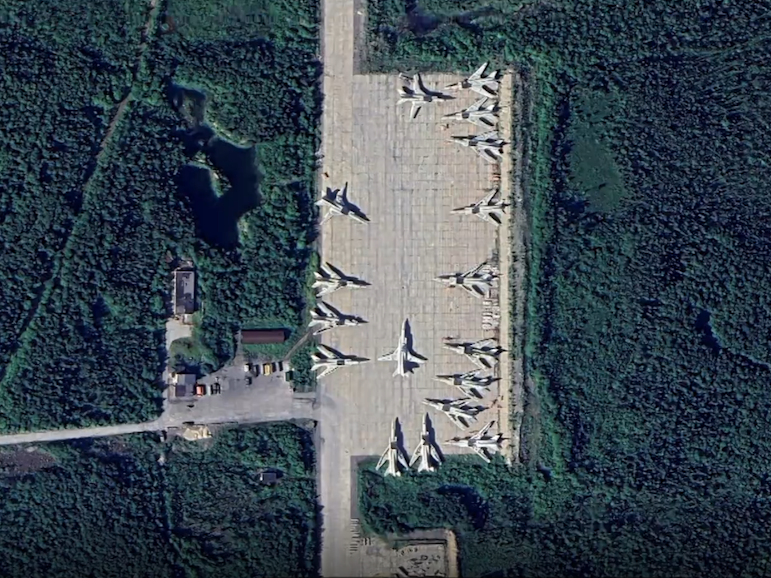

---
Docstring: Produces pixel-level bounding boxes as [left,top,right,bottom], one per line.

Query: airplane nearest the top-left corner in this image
[317,186,367,224]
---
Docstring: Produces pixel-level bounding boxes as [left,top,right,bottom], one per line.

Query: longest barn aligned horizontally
[242,330,285,343]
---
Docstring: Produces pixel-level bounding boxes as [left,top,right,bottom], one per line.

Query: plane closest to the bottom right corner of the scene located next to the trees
[443,422,501,461]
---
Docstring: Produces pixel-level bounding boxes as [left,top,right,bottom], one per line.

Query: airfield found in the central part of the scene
[316,0,513,578]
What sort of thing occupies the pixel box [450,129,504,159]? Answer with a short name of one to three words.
airplane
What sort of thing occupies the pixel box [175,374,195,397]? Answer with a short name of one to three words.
building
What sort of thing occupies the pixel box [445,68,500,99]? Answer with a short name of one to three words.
airplane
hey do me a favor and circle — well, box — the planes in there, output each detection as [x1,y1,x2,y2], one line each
[317,186,367,224]
[442,96,499,128]
[398,76,450,119]
[422,397,480,429]
[443,422,501,461]
[434,260,490,296]
[380,320,426,376]
[312,346,367,378]
[410,415,440,472]
[450,129,504,159]
[445,68,500,99]
[309,304,364,335]
[312,266,367,297]
[450,190,504,223]
[376,418,407,476]
[433,367,490,399]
